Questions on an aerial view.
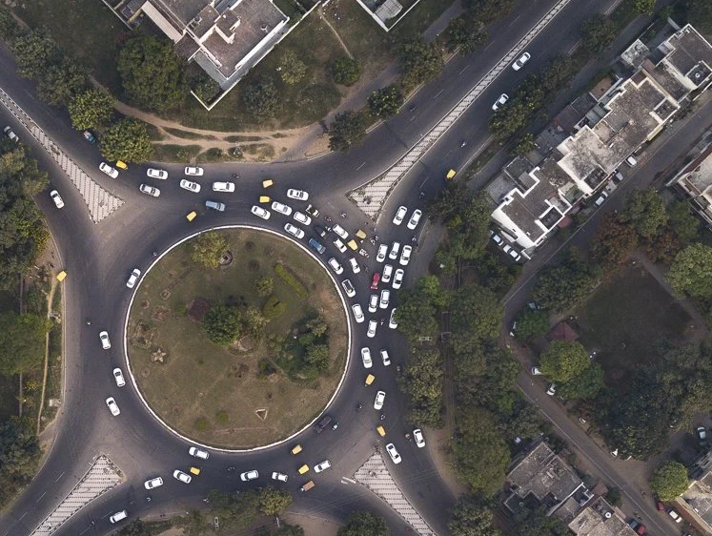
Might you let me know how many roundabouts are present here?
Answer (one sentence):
The count comes to 1 roundabout.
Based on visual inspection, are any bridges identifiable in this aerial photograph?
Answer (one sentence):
No, the photo shows no bridge.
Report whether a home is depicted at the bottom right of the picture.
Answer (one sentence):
Yes, you'll find a home at the bottom right of the picture.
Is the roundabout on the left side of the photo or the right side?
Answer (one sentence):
The roundabout is on the left side of the image.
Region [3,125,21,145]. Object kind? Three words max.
car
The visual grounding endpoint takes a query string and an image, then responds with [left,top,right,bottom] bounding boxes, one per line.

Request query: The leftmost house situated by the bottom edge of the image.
[503,440,594,521]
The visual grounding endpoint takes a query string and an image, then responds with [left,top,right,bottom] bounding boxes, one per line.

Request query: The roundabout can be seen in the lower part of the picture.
[124,224,353,454]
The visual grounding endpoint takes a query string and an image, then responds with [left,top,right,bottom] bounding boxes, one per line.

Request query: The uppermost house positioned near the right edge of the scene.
[615,25,712,98]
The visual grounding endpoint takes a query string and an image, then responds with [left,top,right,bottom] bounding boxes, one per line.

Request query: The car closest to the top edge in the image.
[512,52,531,72]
